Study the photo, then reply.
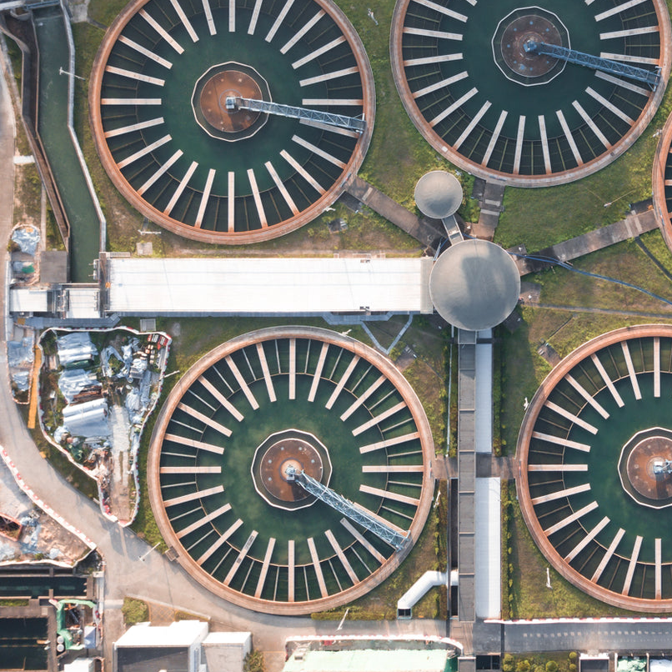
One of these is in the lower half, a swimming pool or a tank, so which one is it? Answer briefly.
tank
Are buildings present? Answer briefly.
Yes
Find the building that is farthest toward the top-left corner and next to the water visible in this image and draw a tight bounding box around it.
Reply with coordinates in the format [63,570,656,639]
[41,251,79,284]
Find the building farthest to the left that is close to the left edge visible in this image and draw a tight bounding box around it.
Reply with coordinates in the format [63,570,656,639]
[9,288,54,311]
